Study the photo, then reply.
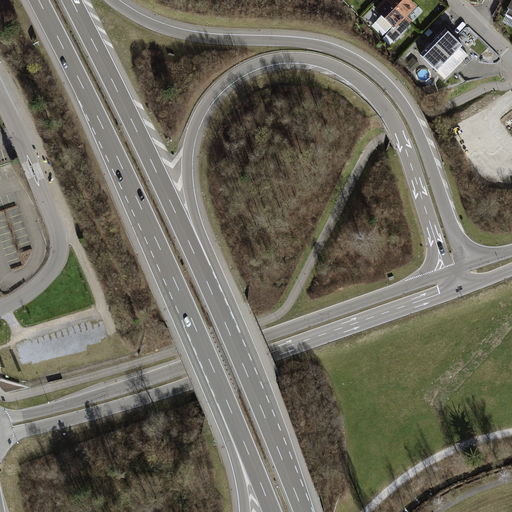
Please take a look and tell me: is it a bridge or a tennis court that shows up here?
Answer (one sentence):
The one in the frame is a bridge.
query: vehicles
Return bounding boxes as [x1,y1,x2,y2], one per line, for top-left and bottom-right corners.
[138,190,145,201]
[115,171,123,182]
[438,243,444,254]
[452,126,464,142]
[454,22,466,33]
[184,318,191,329]
[60,58,69,70]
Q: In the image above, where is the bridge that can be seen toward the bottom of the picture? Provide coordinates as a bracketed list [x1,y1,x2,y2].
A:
[170,312,278,396]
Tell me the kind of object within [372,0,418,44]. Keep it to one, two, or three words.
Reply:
house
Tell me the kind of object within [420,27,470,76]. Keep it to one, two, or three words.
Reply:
house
